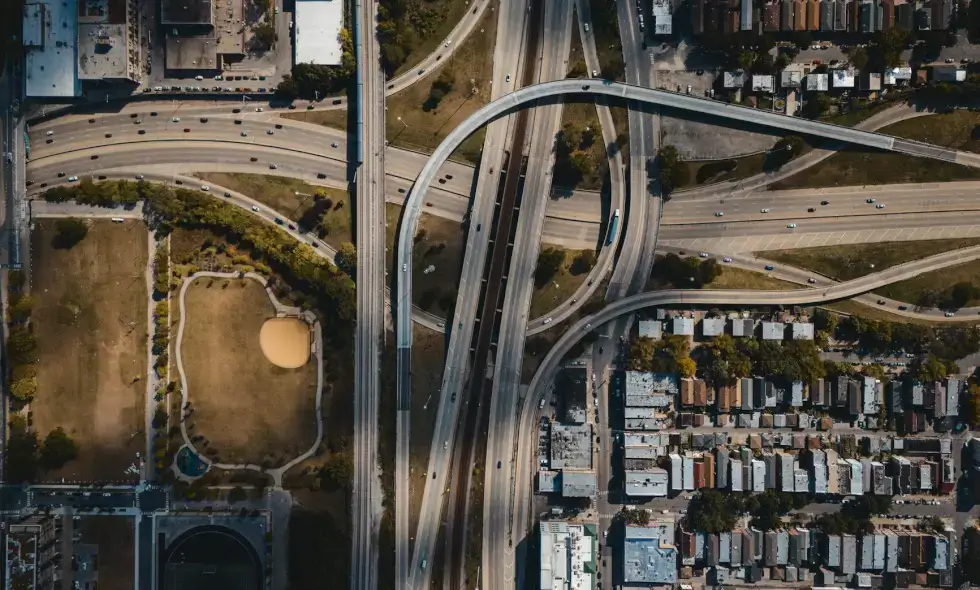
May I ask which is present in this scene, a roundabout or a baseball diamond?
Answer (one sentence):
Of the two, only a baseball diamond appears.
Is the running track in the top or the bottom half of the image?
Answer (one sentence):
The running track sits in the bottom half of the picture.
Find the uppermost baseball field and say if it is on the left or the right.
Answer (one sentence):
The uppermost baseball field is on the left side of the image.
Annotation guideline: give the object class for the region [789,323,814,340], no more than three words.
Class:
house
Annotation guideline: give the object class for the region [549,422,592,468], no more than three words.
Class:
building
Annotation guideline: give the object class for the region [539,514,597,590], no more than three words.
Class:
building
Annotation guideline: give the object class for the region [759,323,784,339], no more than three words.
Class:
house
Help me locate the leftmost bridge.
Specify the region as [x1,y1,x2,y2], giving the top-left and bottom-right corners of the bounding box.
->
[0,102,32,300]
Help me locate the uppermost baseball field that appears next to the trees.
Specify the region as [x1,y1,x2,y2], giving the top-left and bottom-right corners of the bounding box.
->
[260,318,310,368]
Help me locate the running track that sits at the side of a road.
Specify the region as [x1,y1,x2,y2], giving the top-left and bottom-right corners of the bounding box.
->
[157,516,266,590]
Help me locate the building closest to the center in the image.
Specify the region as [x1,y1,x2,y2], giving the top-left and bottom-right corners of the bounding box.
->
[555,365,586,409]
